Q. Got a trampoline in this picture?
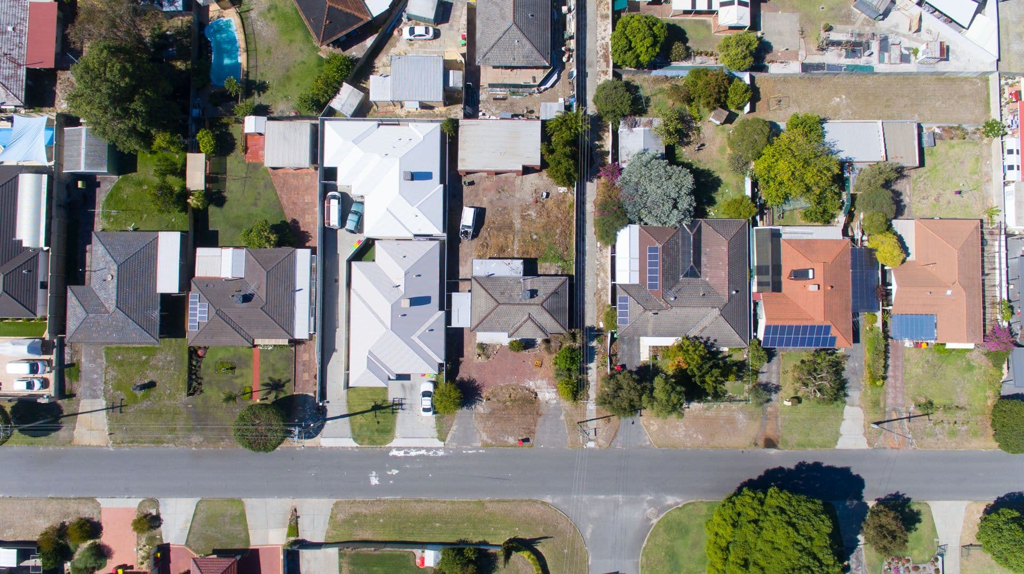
No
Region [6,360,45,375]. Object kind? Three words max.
vehicle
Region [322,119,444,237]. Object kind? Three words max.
house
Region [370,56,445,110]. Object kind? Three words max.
building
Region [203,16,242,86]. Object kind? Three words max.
swimming pool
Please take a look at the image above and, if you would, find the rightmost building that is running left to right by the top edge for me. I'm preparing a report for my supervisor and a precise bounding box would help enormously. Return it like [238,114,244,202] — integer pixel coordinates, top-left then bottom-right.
[904,0,979,33]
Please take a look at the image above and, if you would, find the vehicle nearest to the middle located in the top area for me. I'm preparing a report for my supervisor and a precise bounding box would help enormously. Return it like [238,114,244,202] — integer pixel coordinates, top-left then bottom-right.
[460,205,477,239]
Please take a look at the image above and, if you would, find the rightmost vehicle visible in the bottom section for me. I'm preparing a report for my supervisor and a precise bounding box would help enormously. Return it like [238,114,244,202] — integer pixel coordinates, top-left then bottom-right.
[419,381,434,415]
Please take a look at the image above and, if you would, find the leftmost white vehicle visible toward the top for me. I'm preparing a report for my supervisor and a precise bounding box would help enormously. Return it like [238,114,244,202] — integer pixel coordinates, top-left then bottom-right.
[324,192,341,229]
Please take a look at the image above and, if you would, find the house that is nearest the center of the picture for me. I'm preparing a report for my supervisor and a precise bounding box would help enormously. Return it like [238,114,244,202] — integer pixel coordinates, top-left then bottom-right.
[451,259,569,345]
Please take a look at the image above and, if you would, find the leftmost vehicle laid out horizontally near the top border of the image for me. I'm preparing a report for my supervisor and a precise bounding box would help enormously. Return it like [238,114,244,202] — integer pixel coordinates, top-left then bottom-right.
[402,25,435,41]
